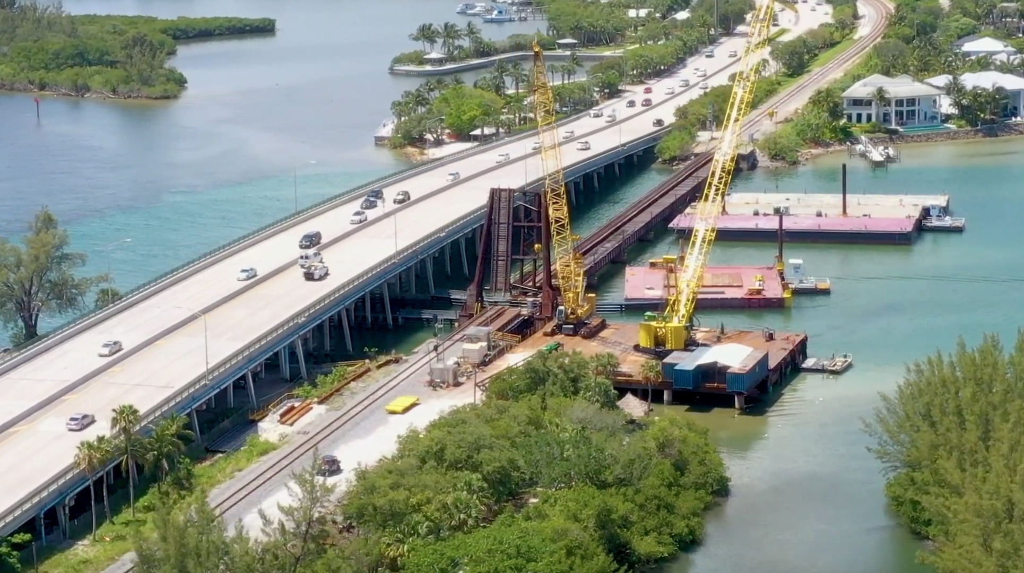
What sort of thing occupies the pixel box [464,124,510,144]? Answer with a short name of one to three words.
building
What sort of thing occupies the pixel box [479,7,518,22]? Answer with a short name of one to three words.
boat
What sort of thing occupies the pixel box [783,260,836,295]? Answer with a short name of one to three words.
boat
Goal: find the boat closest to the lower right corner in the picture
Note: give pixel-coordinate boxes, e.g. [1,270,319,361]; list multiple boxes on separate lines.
[826,354,855,373]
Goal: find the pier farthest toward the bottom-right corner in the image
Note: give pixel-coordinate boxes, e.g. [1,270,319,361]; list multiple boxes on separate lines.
[798,354,837,372]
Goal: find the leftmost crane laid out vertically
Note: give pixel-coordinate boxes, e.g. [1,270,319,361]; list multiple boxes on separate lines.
[531,36,602,335]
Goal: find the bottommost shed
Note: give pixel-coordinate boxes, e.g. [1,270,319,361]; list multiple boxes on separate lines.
[612,390,653,423]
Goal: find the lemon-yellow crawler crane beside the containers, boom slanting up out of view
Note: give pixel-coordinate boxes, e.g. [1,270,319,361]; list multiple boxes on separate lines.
[636,0,783,351]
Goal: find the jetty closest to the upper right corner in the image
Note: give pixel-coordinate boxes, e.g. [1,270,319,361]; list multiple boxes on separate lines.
[857,137,890,167]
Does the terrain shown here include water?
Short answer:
Yes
